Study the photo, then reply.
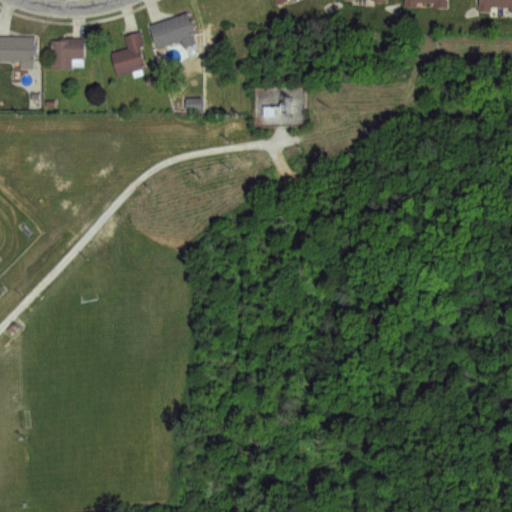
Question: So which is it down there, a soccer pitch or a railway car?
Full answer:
Visible in the photo is a soccer pitch.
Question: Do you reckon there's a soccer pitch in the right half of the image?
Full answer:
No, looking in the right half of the image, there is no soccer pitch.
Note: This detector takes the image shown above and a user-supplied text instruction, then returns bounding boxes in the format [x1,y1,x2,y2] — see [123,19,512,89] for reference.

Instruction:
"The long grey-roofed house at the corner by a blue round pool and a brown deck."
[0,35,34,68]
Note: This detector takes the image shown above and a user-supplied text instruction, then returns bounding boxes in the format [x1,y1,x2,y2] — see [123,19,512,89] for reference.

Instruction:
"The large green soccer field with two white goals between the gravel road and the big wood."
[23,237,188,504]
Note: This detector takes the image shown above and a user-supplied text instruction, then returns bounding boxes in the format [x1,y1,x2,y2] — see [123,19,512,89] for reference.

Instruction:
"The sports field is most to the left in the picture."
[0,182,38,272]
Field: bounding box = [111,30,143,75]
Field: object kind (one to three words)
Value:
house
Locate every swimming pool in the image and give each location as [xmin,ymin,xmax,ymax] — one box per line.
[20,74,32,86]
[166,48,180,64]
